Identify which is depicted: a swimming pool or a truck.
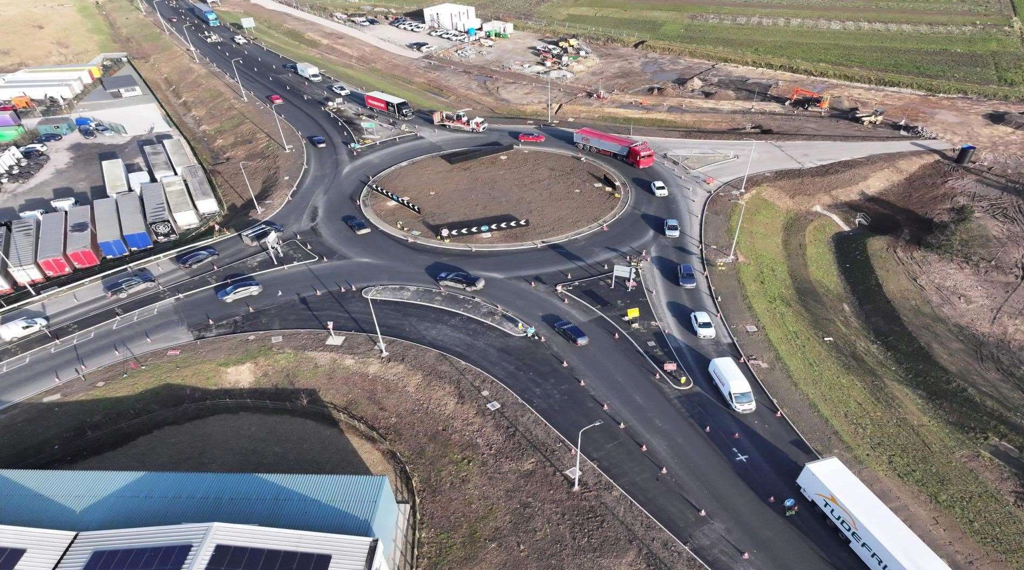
truck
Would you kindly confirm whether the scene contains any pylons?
No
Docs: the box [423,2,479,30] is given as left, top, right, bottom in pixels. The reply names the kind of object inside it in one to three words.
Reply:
building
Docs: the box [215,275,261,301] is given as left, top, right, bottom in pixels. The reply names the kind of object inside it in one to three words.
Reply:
car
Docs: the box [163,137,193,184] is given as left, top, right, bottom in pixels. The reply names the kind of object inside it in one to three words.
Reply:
trailer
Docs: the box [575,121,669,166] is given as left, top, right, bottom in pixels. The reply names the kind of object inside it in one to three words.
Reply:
truck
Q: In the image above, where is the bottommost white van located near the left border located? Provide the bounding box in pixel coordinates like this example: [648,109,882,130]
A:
[0,314,46,344]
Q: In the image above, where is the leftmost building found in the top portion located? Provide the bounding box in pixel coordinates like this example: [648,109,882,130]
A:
[100,72,145,104]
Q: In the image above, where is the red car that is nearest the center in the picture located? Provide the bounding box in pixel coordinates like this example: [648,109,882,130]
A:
[518,130,545,143]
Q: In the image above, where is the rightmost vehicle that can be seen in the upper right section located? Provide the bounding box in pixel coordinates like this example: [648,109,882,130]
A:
[856,108,884,124]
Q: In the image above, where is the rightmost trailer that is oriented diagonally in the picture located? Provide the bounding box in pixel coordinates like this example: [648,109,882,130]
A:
[792,454,950,570]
